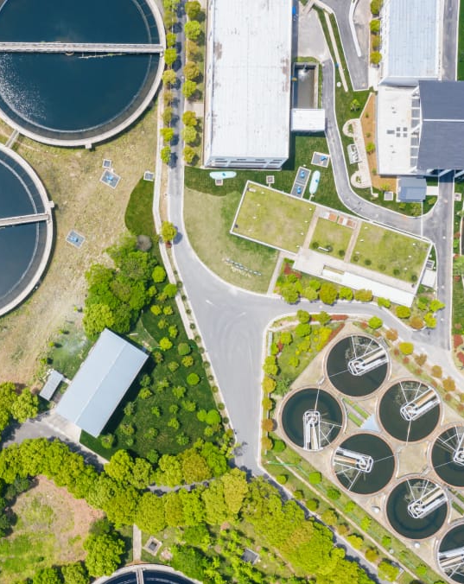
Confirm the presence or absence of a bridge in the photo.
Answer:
Yes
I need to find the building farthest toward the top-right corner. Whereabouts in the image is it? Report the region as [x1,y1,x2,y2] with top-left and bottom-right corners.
[376,0,441,85]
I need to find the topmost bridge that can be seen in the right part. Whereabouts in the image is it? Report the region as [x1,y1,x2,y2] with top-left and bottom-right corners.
[350,336,394,376]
